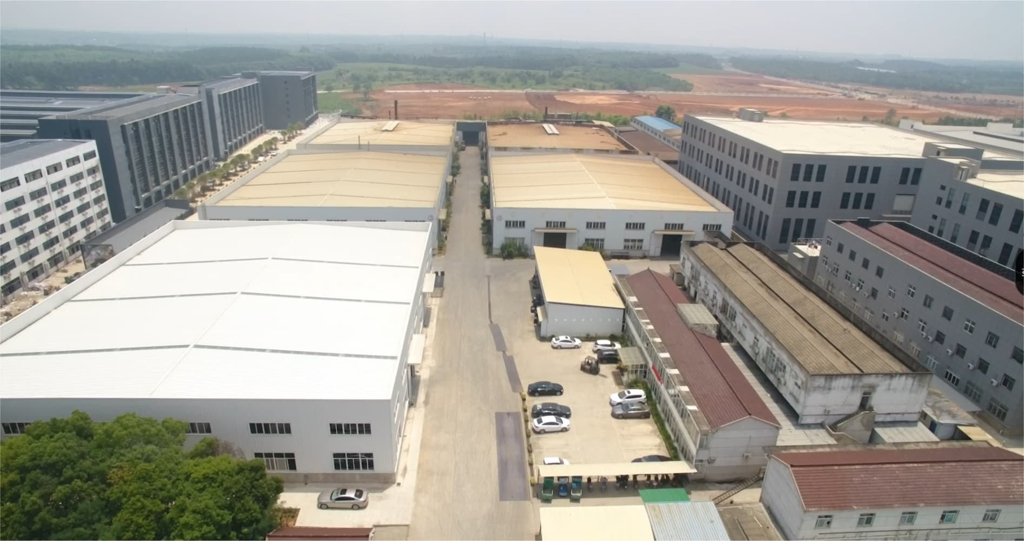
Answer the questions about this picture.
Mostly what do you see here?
buildings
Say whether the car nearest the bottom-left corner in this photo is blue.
No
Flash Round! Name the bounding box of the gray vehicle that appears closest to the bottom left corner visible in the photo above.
[316,492,368,515]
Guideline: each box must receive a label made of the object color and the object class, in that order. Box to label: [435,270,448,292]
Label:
gray vehicle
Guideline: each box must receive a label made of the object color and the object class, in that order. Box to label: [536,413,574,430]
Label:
white car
